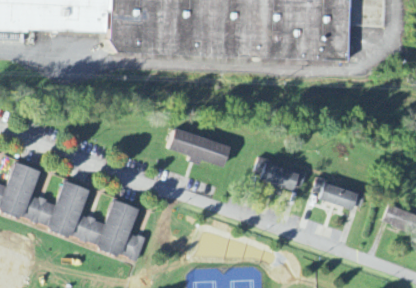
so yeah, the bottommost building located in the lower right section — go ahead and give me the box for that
[381,206,416,232]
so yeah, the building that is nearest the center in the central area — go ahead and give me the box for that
[166,129,231,168]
